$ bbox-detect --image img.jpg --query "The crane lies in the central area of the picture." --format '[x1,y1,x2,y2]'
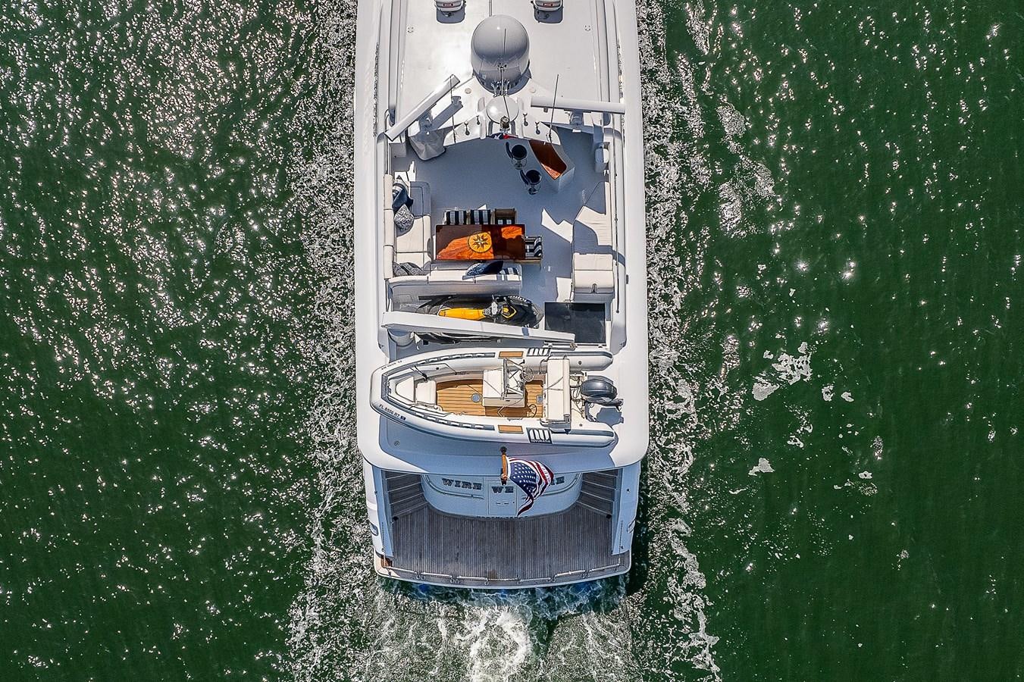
[379,314,575,362]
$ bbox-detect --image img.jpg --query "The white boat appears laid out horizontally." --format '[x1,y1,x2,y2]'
[366,347,628,449]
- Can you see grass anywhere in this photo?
No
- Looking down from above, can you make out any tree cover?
No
